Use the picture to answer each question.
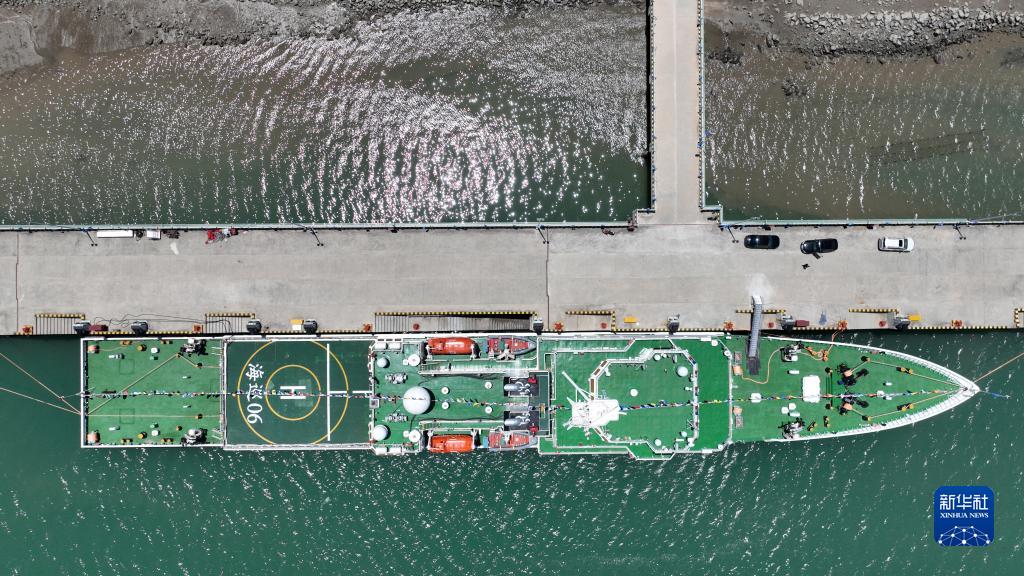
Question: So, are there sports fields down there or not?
No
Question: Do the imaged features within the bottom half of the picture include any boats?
Yes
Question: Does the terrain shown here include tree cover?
No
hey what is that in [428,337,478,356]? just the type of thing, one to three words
boat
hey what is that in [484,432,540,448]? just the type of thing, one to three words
boat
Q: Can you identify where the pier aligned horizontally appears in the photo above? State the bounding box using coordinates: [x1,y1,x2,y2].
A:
[0,204,1024,335]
